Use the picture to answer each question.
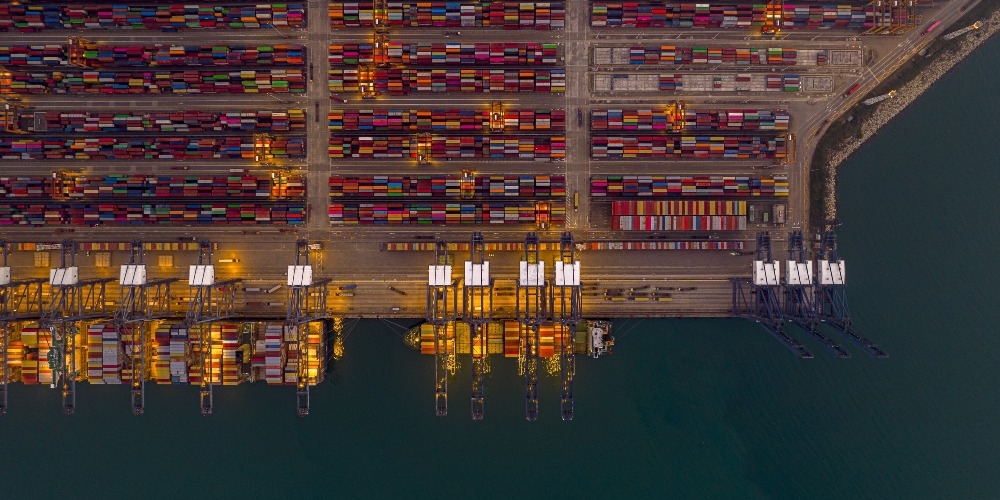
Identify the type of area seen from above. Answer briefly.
port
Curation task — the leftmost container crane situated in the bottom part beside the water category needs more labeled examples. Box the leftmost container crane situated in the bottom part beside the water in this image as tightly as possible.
[0,242,59,413]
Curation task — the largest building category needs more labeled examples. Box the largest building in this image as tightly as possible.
[771,204,787,226]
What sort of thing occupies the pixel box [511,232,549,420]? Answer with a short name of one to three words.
container crane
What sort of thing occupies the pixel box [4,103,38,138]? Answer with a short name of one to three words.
container crane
